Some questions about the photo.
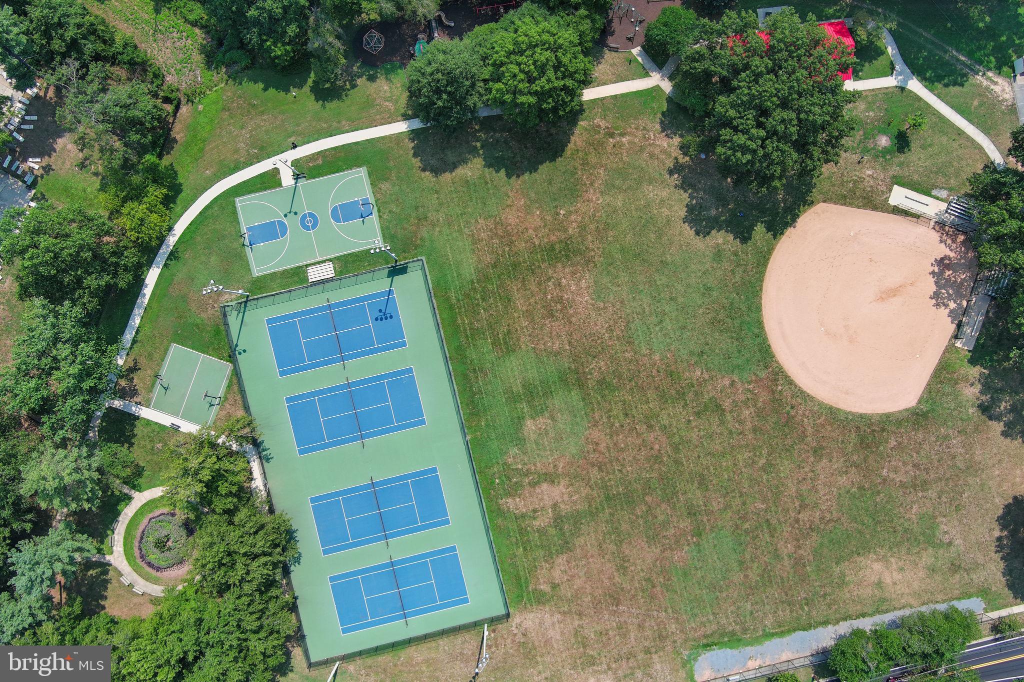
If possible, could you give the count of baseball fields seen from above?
1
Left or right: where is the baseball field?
right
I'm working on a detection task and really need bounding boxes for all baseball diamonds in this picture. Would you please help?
[761,202,977,414]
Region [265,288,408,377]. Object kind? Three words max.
tennis court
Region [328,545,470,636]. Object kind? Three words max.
tennis court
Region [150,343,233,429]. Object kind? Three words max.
basketball court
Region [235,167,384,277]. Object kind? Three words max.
basketball court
